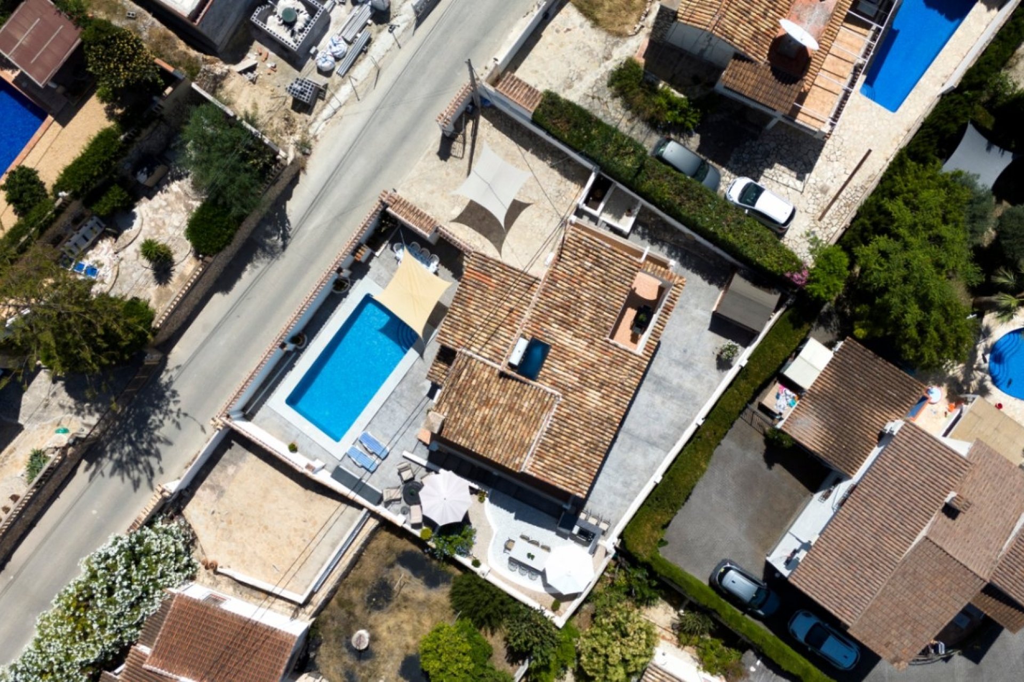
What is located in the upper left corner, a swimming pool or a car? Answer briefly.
swimming pool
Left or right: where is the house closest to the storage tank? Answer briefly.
left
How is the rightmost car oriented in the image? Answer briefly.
at an angle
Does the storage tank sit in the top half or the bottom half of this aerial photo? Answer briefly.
top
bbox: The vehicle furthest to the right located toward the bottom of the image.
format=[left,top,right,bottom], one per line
[784,605,862,670]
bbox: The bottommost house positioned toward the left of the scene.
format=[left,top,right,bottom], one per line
[100,578,322,682]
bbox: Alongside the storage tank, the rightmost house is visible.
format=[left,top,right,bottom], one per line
[160,0,269,53]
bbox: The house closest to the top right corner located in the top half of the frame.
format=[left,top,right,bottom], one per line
[668,0,893,154]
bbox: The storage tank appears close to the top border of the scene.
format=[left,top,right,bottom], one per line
[249,0,336,63]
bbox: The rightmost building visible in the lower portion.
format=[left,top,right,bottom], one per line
[758,337,1024,673]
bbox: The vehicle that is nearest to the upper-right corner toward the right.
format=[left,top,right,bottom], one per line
[723,180,796,235]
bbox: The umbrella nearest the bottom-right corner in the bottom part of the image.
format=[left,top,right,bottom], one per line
[544,544,594,594]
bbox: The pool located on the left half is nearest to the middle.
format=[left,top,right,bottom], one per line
[285,292,432,443]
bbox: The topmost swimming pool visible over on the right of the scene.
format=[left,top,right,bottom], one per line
[860,0,978,112]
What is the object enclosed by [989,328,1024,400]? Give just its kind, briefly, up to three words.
swimming pool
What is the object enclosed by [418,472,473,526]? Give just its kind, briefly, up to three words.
umbrella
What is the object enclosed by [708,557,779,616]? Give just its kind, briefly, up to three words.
car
